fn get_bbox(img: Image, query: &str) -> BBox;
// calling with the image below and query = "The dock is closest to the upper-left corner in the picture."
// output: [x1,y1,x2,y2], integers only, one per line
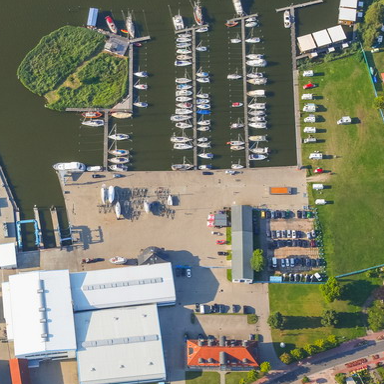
[65,27,150,113]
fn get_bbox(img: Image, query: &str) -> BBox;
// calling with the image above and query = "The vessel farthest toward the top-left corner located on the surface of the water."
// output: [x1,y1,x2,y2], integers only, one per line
[102,14,117,34]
